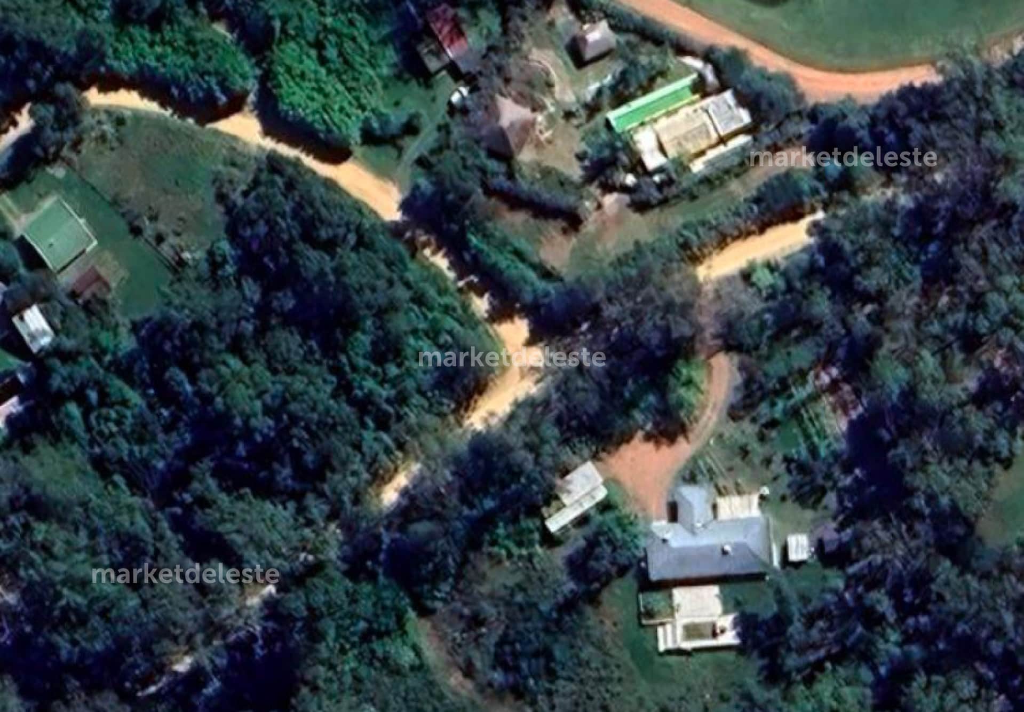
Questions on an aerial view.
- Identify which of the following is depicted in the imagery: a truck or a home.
home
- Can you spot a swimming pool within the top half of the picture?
No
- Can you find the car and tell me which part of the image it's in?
top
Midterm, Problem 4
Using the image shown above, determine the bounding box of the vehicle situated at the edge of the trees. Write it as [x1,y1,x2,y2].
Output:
[450,86,471,106]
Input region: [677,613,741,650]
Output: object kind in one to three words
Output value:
swimming pool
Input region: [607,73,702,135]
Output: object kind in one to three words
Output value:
building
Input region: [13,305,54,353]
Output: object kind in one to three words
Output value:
shed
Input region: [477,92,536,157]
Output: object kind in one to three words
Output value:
house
